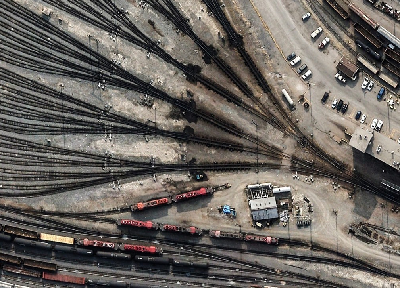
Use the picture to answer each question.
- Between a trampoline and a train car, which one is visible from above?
train car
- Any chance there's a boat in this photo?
Yes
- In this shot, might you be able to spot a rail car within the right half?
Yes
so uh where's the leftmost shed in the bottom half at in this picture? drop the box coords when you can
[251,197,279,221]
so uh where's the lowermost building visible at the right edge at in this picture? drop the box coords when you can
[338,116,400,177]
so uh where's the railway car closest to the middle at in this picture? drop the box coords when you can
[173,186,215,202]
